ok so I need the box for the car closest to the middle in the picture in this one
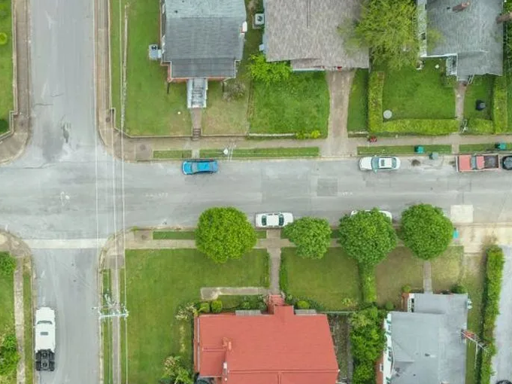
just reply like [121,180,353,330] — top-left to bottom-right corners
[255,211,294,229]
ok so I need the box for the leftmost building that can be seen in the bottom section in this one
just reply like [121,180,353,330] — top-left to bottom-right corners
[197,294,339,384]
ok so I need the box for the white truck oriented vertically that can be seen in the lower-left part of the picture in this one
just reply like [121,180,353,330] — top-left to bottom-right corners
[33,304,58,371]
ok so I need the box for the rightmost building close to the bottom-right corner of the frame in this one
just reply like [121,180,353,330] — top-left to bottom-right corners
[370,290,476,384]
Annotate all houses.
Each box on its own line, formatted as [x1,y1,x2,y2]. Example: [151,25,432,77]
[197,294,339,384]
[161,0,247,108]
[260,0,369,74]
[370,290,476,384]
[417,0,512,86]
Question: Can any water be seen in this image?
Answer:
No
